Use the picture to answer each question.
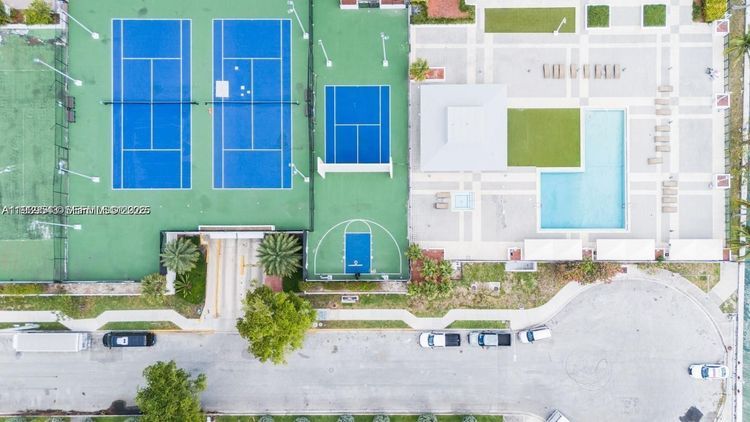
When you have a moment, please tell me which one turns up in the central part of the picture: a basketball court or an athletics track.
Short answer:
basketball court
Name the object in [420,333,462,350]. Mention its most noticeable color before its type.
white vehicle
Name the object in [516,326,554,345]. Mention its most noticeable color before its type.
white car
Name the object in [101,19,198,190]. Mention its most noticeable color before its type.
blue tennis court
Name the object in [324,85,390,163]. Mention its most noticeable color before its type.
blue tennis court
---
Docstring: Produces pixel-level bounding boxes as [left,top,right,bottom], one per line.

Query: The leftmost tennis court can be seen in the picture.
[0,29,64,281]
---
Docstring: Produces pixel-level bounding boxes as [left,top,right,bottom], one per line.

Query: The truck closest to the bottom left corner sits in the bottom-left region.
[13,330,97,353]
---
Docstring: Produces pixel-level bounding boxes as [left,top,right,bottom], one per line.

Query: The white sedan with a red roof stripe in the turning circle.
[688,363,727,380]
